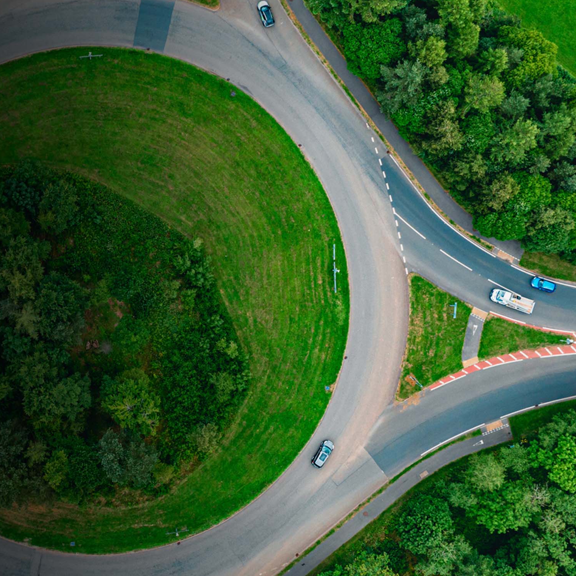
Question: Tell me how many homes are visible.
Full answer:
I count no homes.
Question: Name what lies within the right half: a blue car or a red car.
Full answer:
Looking within the right half, you will find a blue car.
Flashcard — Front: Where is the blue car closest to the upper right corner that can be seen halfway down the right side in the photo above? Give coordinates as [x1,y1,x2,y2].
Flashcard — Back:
[530,276,557,293]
